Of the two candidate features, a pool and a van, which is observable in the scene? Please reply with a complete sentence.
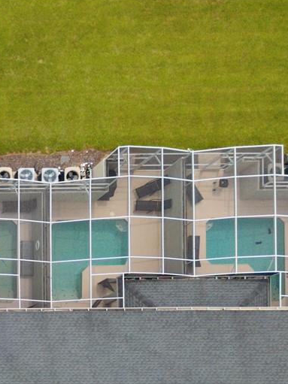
Visible in the photo is a pool.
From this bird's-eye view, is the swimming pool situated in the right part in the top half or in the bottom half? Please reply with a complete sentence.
The swimming pool situated in the right part is in the bottom half of the image.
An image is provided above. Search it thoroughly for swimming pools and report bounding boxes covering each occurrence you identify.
[0,221,15,302]
[52,211,127,299]
[207,220,282,303]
